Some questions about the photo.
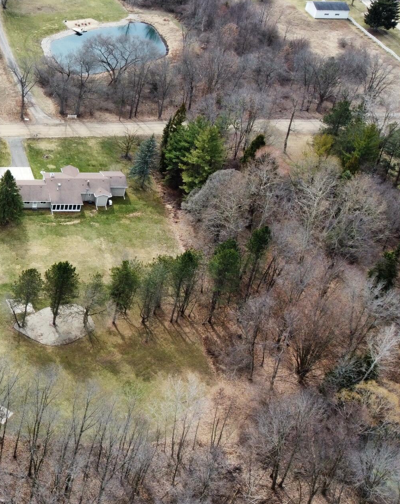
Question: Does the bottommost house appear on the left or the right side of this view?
left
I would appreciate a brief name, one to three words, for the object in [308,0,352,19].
building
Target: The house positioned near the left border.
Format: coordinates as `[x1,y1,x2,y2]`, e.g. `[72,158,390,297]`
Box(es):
[2,164,128,214]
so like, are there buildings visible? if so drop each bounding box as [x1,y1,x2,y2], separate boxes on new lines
[308,0,352,19]
[2,164,128,214]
